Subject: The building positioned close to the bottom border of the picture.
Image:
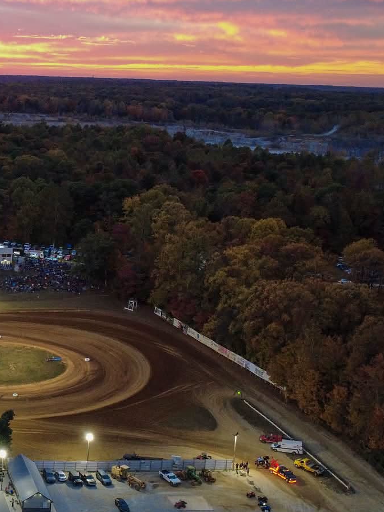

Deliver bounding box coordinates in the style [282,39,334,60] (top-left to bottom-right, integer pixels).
[5,449,56,512]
